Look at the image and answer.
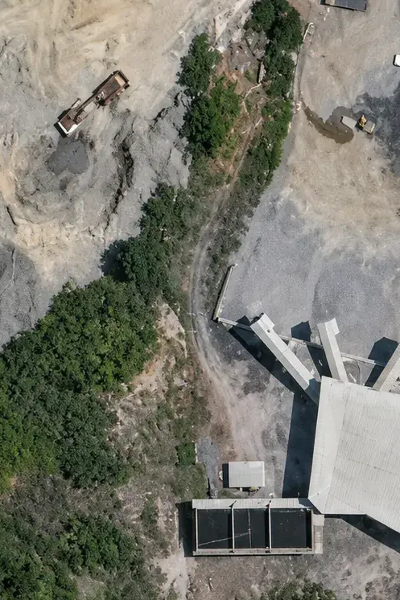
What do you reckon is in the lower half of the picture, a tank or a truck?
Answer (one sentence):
The feature located in the lower half of the picture is a tank.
